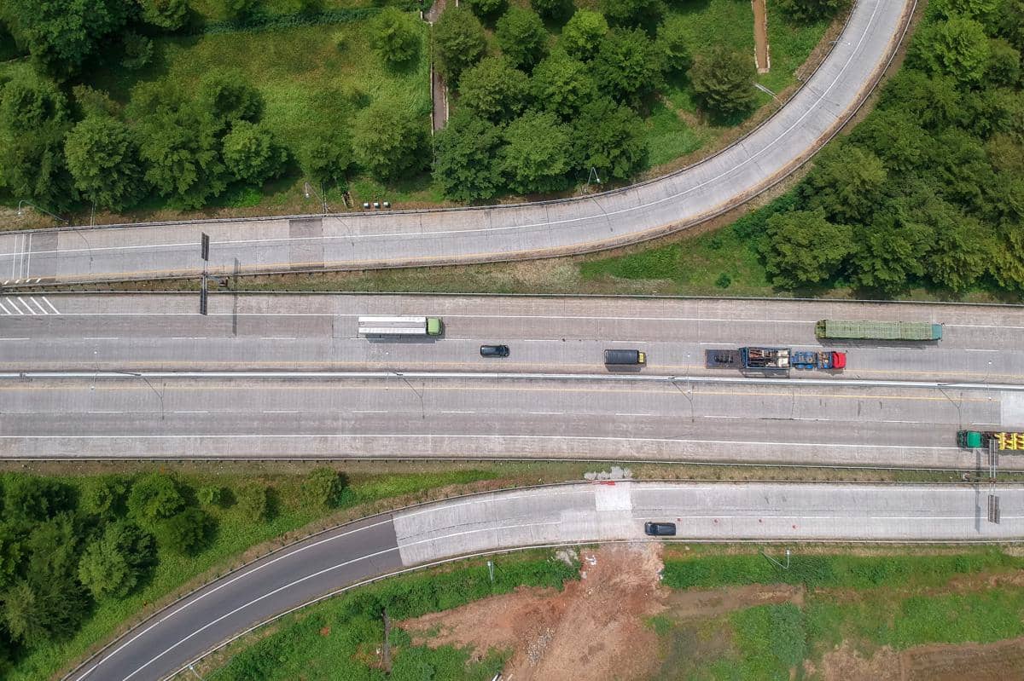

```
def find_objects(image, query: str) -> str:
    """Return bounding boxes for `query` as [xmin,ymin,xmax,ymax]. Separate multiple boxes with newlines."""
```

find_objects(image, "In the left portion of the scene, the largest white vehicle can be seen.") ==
[358,317,444,337]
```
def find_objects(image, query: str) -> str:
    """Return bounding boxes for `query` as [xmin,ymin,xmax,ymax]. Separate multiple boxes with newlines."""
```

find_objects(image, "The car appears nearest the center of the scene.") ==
[479,345,509,357]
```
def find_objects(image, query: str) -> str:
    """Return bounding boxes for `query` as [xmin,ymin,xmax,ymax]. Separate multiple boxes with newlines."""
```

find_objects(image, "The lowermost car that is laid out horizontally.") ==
[644,522,677,538]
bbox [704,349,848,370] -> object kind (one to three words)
truck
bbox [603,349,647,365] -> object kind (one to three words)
vehicle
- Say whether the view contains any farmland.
No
